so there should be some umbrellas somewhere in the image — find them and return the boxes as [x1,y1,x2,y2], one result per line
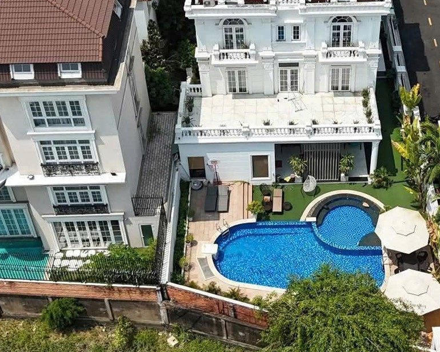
[373,212,428,257]
[382,270,440,327]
